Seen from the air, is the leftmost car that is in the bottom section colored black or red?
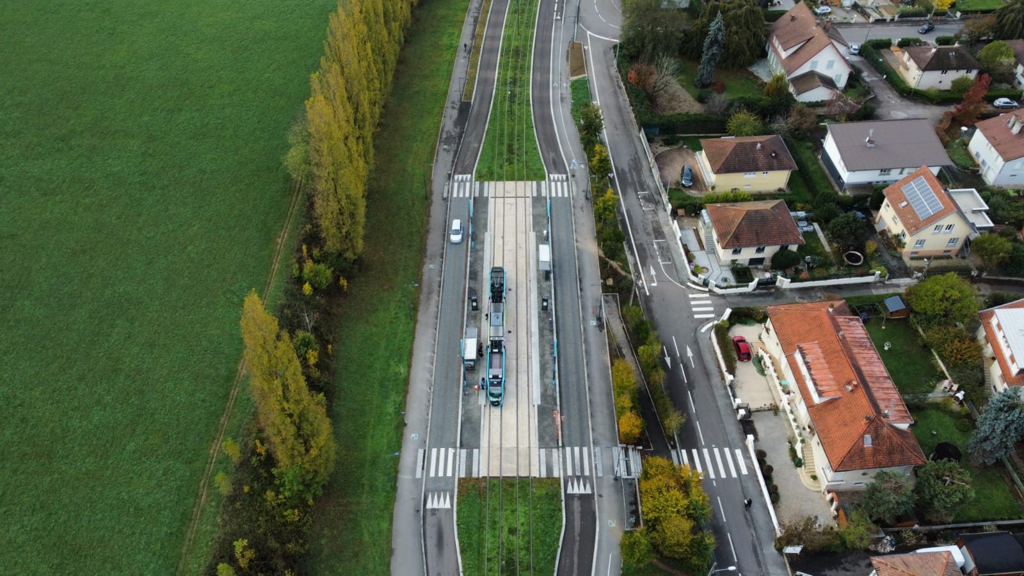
red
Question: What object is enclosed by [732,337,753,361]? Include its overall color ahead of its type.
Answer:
red car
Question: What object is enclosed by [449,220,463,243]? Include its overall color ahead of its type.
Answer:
white car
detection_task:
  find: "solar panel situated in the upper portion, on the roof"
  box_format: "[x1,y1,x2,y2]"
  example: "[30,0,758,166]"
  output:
[901,176,944,220]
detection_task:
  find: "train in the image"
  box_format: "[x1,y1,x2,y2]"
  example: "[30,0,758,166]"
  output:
[485,269,507,408]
